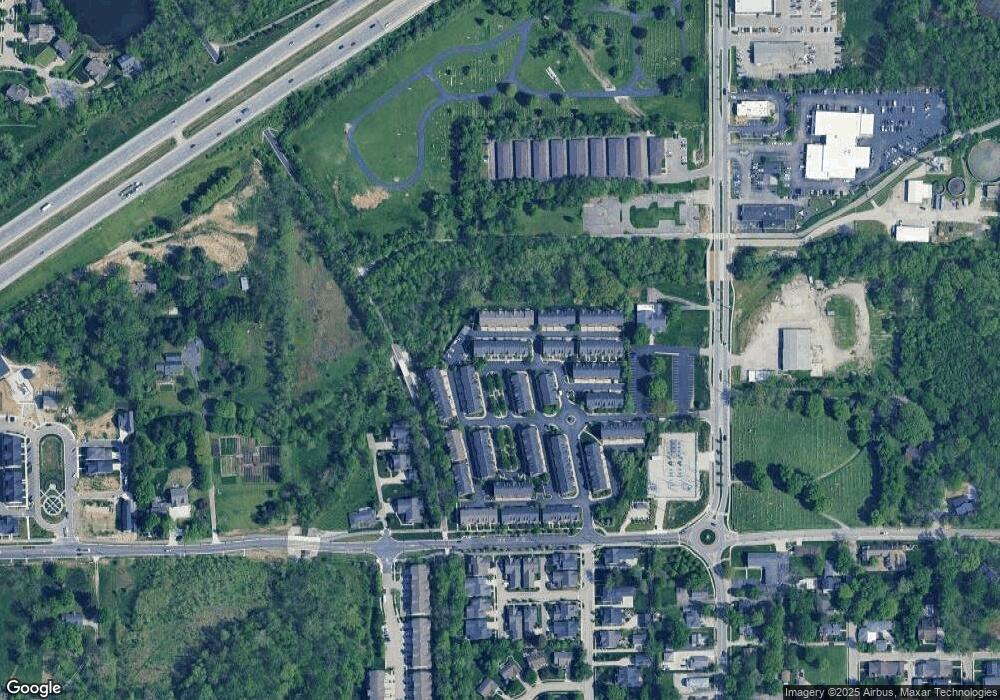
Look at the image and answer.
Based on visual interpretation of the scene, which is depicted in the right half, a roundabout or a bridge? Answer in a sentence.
There is a roundabout in the right half.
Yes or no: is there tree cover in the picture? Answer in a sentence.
Yes, tree cover shows up in the scene.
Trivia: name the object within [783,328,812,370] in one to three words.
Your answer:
barn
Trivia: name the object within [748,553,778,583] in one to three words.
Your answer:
building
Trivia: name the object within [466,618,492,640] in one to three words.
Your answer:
house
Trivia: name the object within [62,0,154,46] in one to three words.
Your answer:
pond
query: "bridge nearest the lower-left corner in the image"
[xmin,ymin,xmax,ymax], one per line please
[288,528,319,558]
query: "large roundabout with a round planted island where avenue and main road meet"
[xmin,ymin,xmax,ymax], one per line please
[679,505,738,562]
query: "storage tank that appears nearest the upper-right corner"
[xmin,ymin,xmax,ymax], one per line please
[969,140,1000,183]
